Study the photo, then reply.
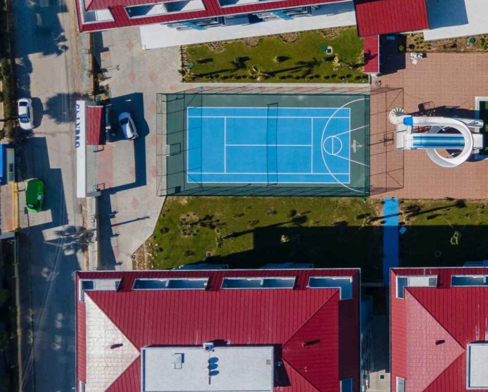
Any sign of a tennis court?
Yes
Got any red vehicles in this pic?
No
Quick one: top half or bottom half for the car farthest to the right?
top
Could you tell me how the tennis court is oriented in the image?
from side to side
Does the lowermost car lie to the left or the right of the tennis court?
on the left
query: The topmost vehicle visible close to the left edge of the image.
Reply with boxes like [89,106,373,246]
[17,97,36,130]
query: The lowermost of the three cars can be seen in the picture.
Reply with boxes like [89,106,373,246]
[26,178,47,213]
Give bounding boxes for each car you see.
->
[26,178,47,213]
[119,110,139,142]
[17,97,36,130]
